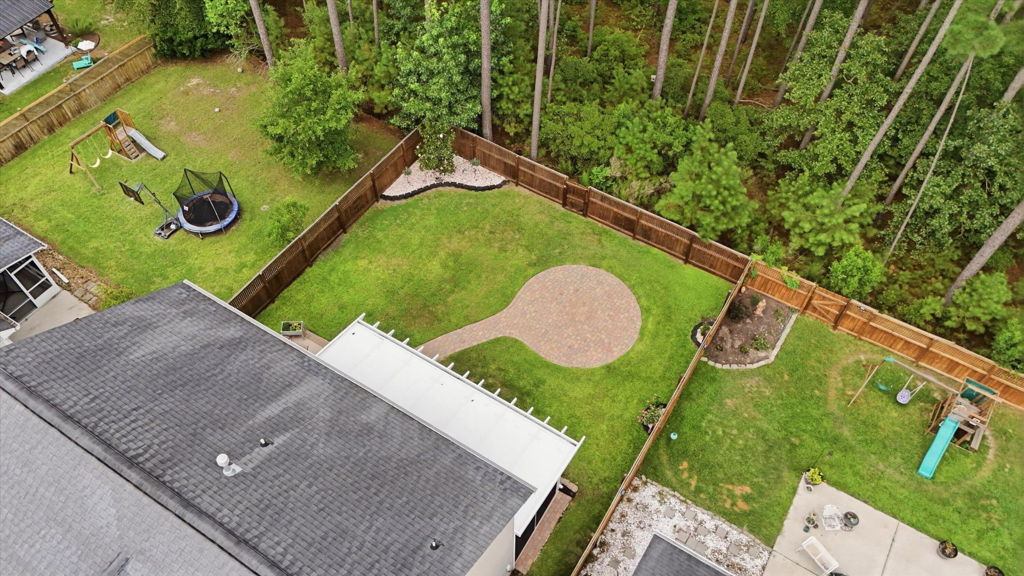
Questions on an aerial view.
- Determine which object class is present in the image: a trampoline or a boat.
trampoline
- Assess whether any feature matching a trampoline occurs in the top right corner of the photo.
No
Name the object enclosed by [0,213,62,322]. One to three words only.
house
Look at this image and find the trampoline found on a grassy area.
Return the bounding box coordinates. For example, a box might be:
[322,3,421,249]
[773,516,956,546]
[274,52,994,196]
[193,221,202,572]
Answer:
[173,169,241,241]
